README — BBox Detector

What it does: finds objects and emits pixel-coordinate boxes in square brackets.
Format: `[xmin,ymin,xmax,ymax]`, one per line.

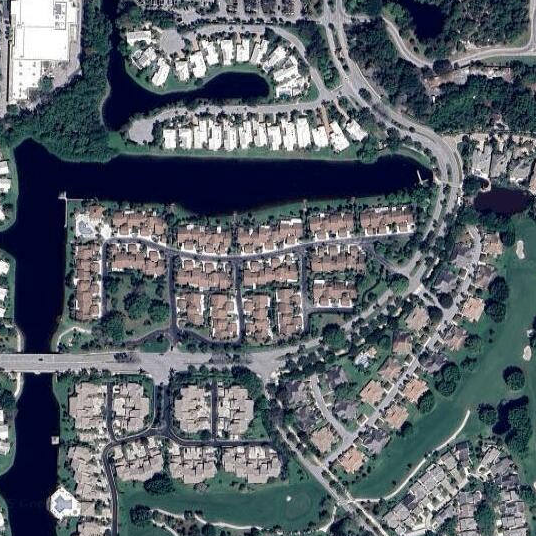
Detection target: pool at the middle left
[75,214,102,240]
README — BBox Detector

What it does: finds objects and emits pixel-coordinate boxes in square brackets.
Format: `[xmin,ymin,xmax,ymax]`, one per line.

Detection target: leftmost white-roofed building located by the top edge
[11,0,77,105]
